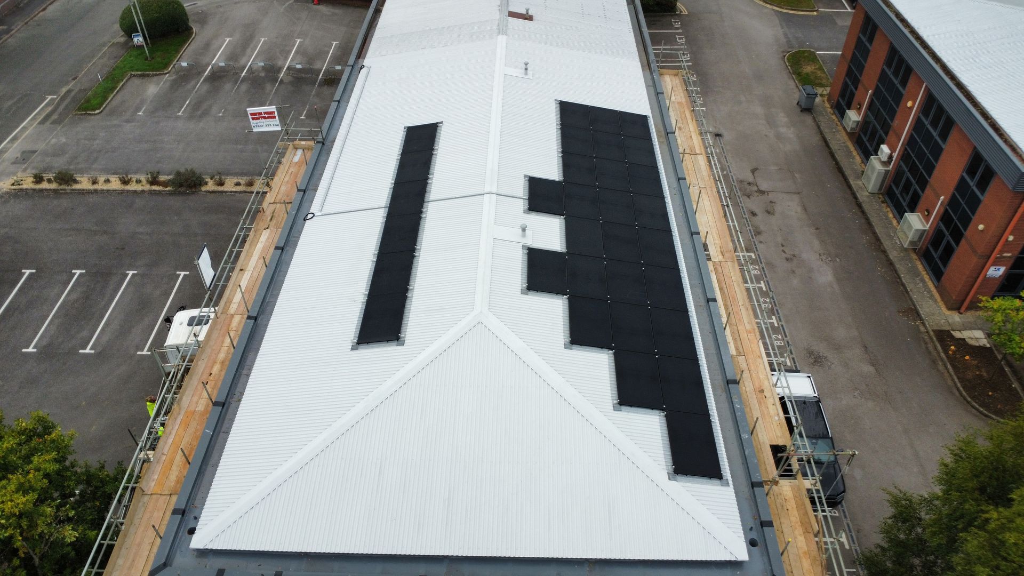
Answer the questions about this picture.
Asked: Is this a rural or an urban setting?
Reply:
urban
